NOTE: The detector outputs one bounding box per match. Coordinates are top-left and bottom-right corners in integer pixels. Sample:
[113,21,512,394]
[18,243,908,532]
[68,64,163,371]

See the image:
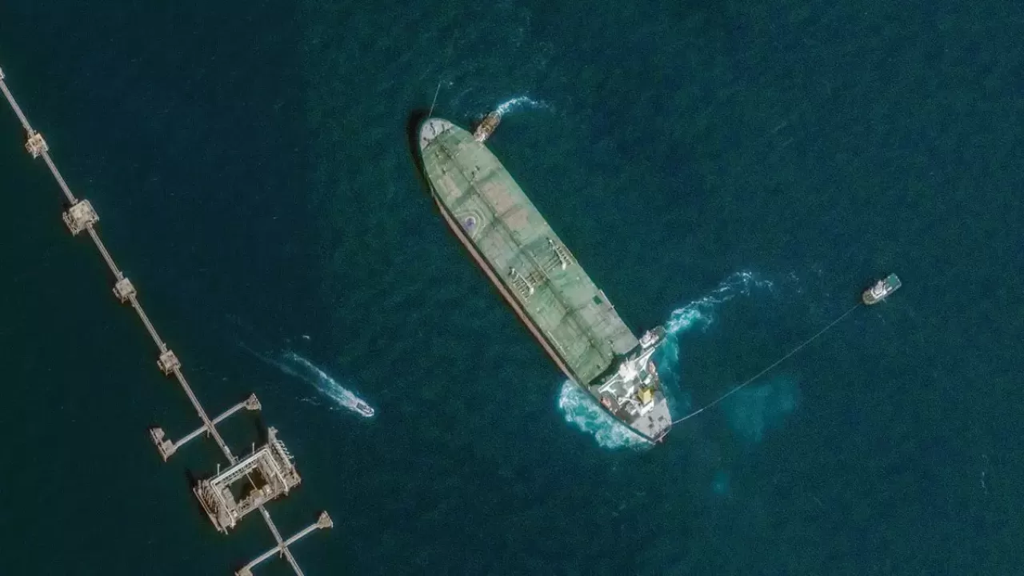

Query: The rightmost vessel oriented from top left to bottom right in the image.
[420,117,671,447]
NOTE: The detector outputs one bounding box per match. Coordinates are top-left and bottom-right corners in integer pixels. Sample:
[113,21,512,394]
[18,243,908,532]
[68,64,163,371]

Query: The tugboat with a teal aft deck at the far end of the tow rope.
[862,273,901,303]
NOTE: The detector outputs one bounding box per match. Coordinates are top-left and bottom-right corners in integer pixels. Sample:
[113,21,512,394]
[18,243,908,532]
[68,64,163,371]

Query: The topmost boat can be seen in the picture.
[474,110,502,145]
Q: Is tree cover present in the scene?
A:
No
